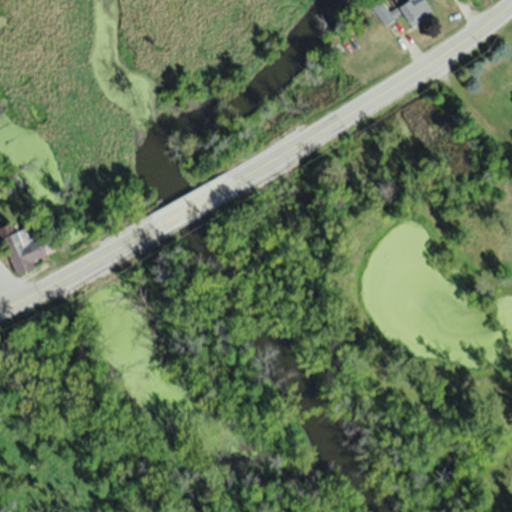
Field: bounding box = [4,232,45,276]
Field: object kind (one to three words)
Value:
house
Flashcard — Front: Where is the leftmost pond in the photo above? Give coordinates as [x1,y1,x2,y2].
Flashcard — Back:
[0,114,66,204]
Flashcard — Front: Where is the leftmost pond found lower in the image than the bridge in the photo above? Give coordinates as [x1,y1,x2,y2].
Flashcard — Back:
[92,290,188,405]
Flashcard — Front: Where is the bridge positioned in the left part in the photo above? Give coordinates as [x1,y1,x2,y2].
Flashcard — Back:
[140,172,240,244]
